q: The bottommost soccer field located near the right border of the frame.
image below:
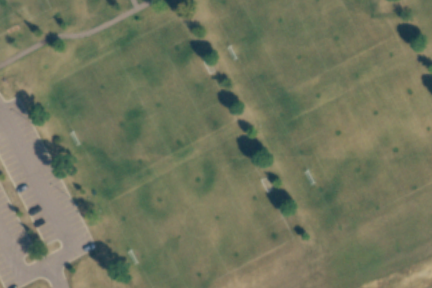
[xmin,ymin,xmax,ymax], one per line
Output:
[284,57,432,229]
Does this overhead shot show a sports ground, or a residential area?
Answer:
sports ground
